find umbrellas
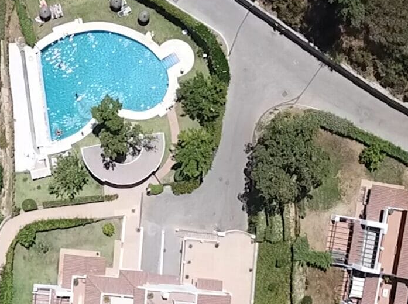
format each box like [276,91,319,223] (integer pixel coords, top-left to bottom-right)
[39,8,52,19]
[137,12,149,23]
[110,0,122,9]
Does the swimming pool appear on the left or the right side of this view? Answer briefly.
left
